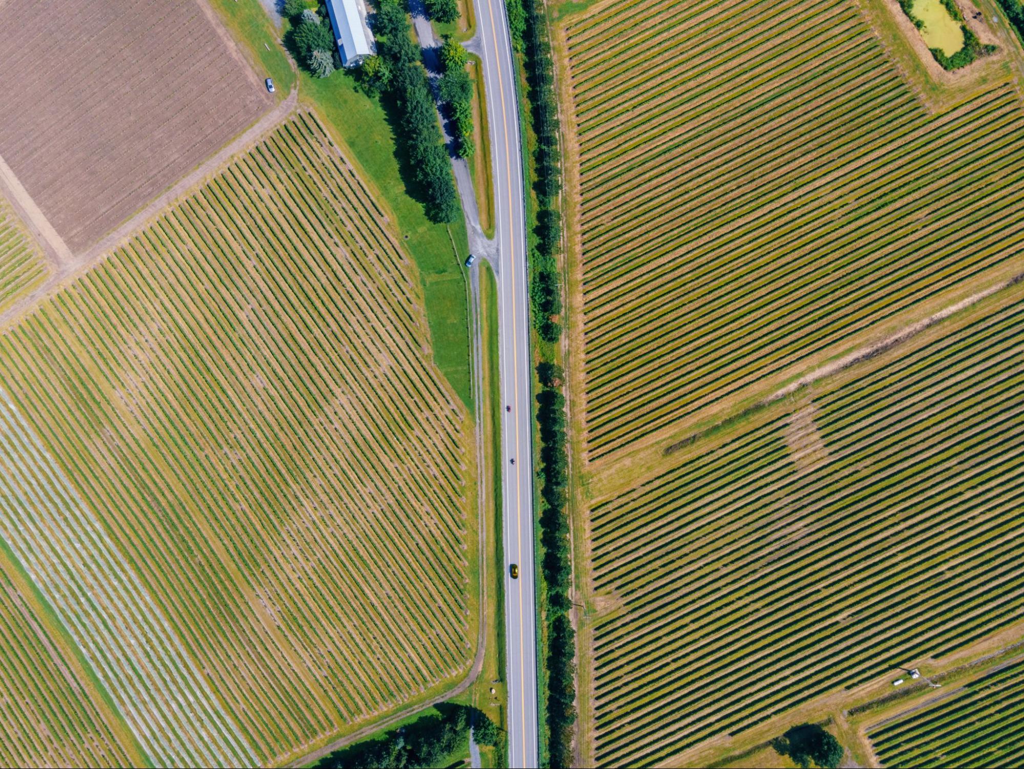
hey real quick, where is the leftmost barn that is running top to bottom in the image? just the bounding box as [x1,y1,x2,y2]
[327,0,369,67]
